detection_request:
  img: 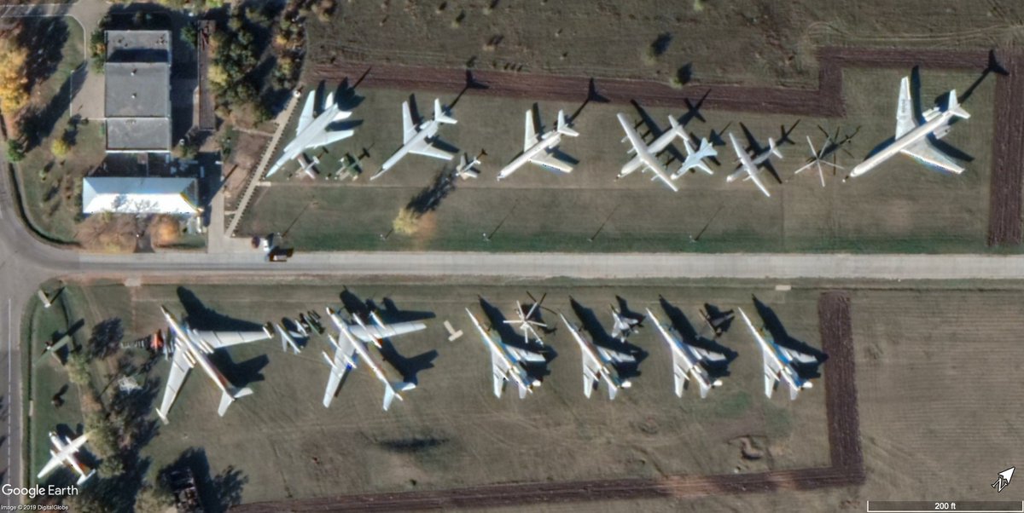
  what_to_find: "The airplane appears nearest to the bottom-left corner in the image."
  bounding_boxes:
[37,433,94,486]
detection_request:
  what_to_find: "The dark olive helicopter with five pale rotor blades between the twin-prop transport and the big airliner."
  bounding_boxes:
[795,136,848,186]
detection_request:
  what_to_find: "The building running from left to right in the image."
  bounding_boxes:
[83,177,205,232]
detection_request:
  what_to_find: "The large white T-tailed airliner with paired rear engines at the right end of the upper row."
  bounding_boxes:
[851,75,971,176]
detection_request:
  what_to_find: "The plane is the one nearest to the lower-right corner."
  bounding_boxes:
[739,308,819,399]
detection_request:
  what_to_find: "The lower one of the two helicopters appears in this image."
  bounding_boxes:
[504,302,547,347]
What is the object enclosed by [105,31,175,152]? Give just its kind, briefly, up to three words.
building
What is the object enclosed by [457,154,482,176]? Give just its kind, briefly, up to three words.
airplane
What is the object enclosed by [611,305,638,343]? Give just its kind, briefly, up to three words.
airplane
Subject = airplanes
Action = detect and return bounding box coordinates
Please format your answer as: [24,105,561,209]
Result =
[155,306,272,421]
[37,433,94,486]
[611,305,638,343]
[316,307,425,409]
[559,313,639,404]
[672,136,719,177]
[739,308,819,399]
[31,334,71,373]
[727,132,784,196]
[266,89,354,177]
[646,308,726,399]
[688,308,729,341]
[296,155,319,178]
[457,154,482,176]
[499,108,579,178]
[466,309,546,400]
[618,114,692,193]
[337,156,362,181]
[851,75,971,176]
[372,100,457,178]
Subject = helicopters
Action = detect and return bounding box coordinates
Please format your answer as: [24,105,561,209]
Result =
[795,136,848,186]
[504,302,547,347]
